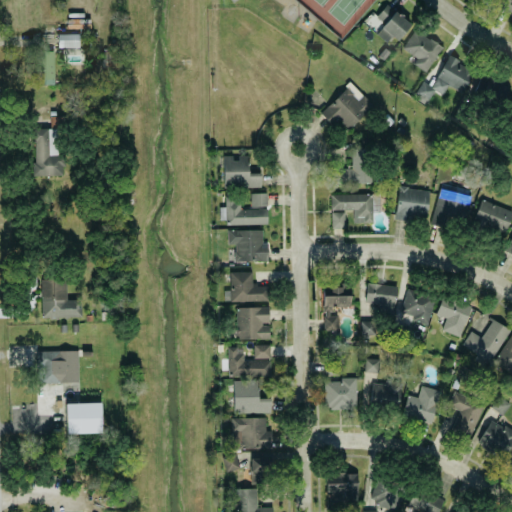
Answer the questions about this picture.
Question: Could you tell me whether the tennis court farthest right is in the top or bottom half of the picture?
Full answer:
The top half of the photo is where the tennis court farthest right is.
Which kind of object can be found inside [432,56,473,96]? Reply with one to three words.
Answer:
house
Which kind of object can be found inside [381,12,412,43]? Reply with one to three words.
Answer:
house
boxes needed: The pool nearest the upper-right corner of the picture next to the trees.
[372,212,389,232]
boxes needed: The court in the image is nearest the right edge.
[320,0,378,38]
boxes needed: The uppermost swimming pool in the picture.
[66,49,85,70]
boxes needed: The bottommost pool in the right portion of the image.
[422,364,438,386]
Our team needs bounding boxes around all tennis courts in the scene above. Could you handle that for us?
[301,0,334,16]
[320,0,378,38]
